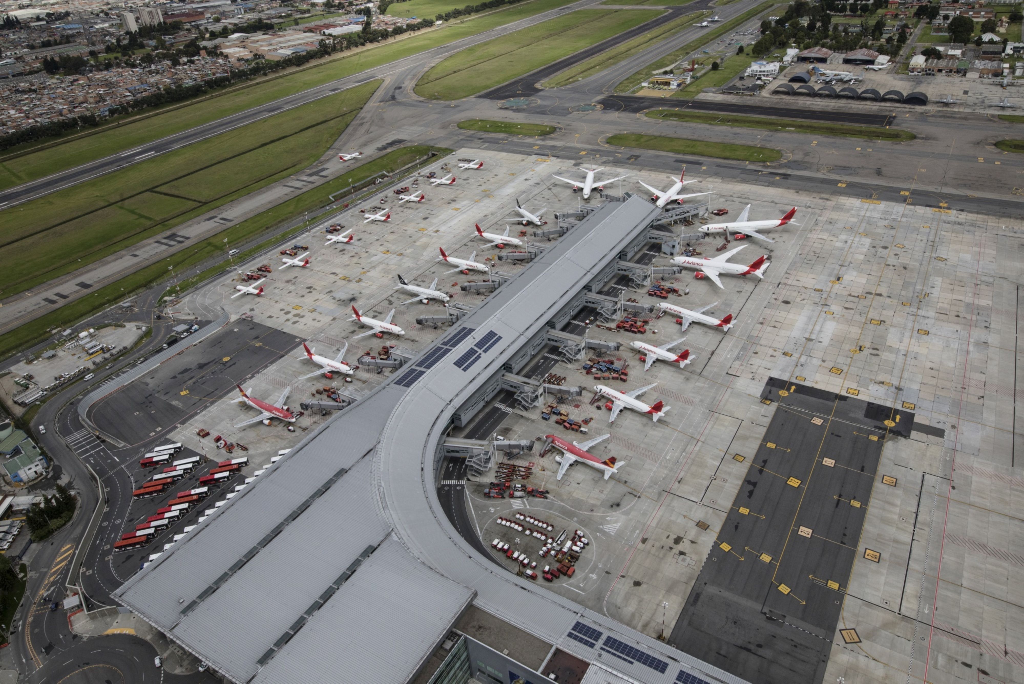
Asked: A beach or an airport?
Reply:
airport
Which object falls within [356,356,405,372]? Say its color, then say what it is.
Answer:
gray jet bridge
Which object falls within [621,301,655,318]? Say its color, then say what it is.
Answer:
gray jet bridge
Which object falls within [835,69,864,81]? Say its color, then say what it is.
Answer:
gray airplane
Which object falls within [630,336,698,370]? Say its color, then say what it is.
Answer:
white airplane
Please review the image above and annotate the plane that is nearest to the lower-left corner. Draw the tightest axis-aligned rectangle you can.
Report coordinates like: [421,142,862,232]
[227,386,296,428]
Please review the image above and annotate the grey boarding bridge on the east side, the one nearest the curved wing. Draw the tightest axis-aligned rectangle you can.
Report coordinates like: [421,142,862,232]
[491,440,534,460]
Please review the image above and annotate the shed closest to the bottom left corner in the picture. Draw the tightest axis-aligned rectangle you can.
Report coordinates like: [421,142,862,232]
[60,588,83,610]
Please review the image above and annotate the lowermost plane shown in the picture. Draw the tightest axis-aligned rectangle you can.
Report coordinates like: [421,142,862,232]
[548,433,625,479]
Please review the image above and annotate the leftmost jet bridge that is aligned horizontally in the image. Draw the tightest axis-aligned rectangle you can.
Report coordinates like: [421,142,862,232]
[298,399,353,417]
